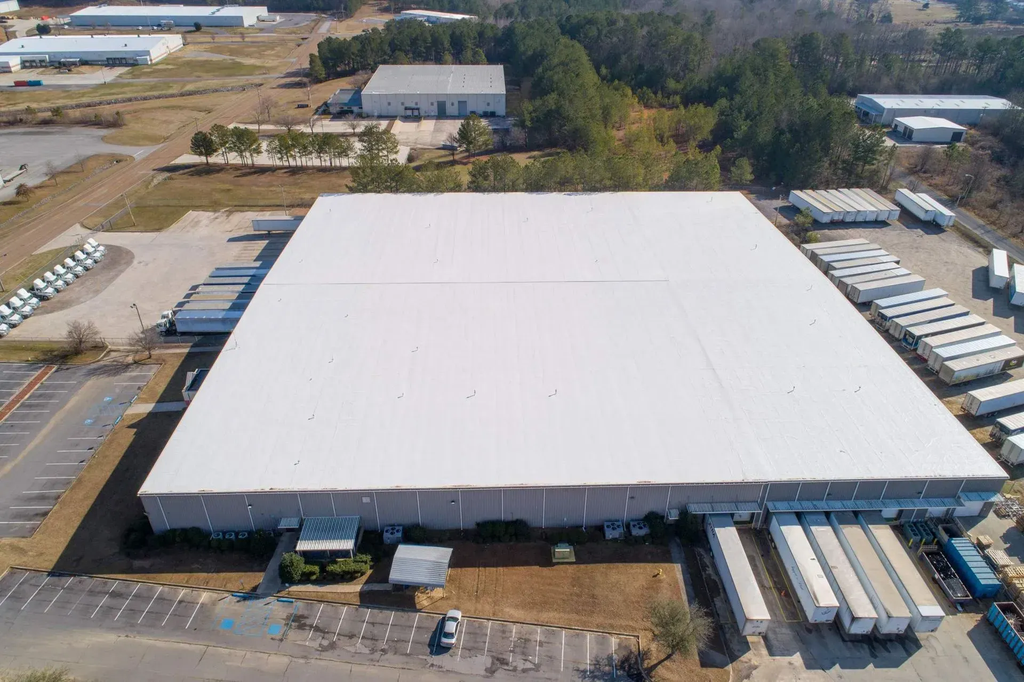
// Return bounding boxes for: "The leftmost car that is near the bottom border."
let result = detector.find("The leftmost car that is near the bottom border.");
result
[440,609,462,650]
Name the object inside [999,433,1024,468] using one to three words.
trailer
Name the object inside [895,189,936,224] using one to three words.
trailer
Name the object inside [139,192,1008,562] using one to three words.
warehouse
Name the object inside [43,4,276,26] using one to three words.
building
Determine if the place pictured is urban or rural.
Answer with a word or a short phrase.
urban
